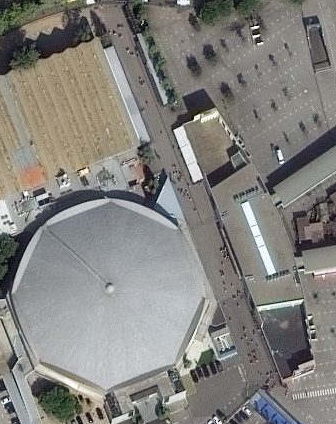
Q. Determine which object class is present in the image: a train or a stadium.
stadium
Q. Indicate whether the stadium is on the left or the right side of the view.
left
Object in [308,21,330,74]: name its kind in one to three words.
building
